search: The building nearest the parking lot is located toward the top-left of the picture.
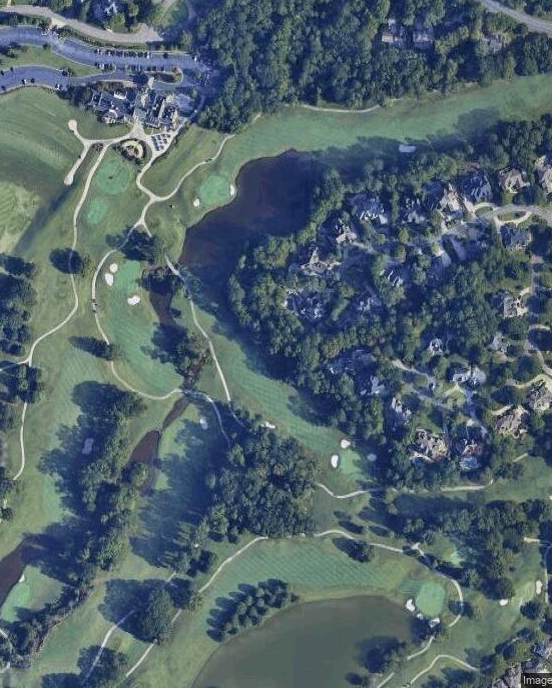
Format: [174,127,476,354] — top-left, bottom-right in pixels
[88,80,181,133]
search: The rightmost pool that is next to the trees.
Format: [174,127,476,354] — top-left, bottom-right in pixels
[464,456,483,471]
